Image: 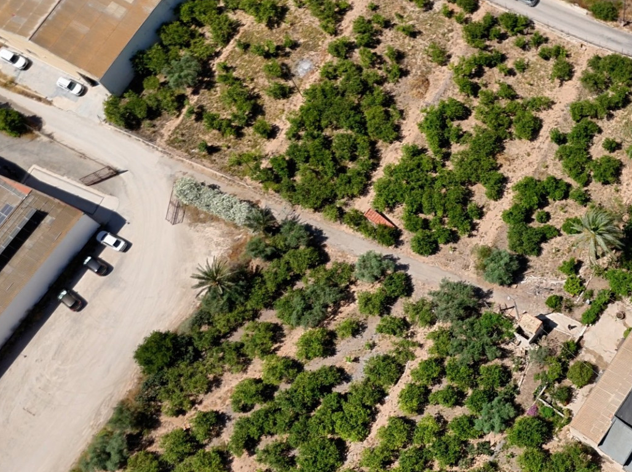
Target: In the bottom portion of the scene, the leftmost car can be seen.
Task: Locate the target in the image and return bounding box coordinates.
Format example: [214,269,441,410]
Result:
[53,286,88,315]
